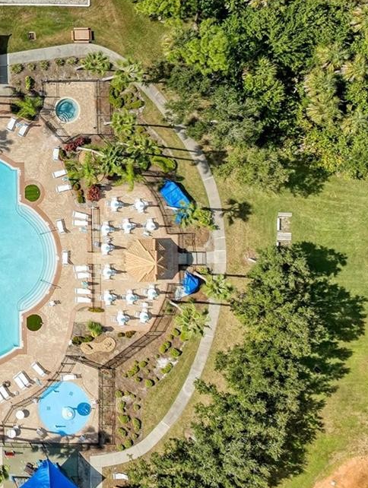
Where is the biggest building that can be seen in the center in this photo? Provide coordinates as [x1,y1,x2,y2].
[121,237,171,284]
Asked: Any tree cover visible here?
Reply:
Yes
